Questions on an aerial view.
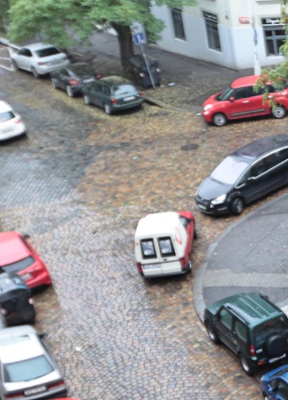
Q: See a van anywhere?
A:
Yes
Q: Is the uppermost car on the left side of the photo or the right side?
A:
left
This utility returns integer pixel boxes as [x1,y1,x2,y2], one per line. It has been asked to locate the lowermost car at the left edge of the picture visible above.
[0,323,70,400]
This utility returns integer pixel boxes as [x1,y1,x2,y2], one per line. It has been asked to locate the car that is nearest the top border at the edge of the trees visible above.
[3,37,69,75]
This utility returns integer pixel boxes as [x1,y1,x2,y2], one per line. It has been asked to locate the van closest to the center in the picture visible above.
[130,199,199,277]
